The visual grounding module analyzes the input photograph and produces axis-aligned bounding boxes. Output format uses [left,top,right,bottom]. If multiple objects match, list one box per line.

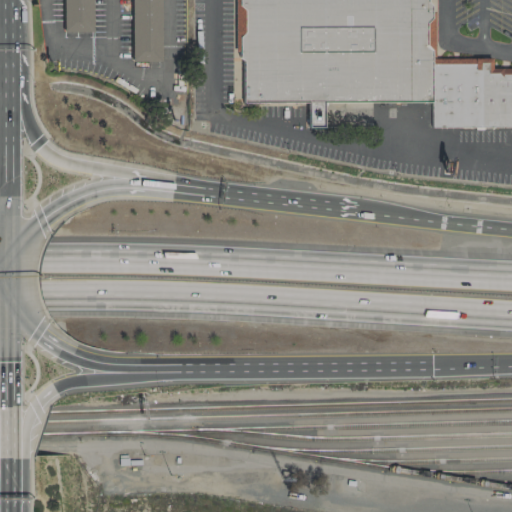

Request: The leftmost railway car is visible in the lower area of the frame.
[389,466,433,478]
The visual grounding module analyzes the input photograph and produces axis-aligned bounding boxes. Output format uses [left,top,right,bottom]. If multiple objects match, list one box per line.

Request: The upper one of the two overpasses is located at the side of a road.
[0,195,110,361]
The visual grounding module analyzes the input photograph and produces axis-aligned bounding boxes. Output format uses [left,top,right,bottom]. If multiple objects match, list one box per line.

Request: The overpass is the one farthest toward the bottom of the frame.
[0,394,62,458]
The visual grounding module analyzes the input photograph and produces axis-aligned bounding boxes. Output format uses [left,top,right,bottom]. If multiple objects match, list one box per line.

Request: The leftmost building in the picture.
[65,0,96,32]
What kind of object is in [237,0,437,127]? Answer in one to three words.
building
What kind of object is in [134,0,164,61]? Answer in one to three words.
building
